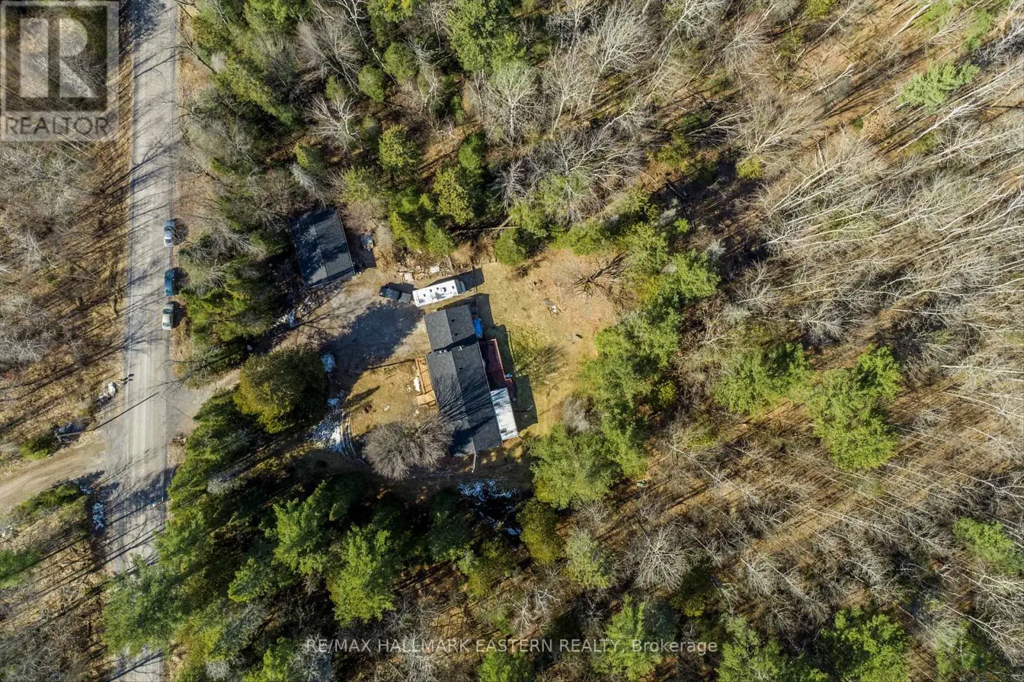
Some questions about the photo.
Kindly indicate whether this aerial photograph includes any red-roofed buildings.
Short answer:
No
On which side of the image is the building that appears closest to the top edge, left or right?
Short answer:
left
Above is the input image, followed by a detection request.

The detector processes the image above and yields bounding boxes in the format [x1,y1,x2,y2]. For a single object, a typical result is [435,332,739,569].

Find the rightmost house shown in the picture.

[415,308,518,455]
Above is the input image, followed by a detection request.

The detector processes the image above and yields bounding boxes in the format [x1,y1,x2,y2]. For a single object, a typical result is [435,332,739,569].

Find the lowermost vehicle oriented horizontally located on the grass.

[414,279,472,308]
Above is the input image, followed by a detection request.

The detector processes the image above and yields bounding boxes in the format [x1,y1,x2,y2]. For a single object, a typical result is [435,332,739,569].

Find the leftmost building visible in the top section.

[288,208,358,291]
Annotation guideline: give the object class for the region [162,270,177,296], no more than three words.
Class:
car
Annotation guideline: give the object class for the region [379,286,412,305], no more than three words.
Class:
vehicle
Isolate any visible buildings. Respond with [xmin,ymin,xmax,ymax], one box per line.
[415,308,518,455]
[288,208,358,291]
